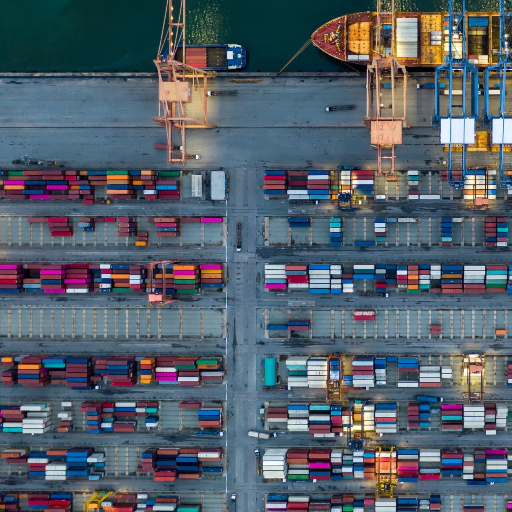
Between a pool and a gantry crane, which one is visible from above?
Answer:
gantry crane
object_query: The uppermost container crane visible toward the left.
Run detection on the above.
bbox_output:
[154,0,223,166]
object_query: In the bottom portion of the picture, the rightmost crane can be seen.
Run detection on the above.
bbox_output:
[462,349,486,402]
